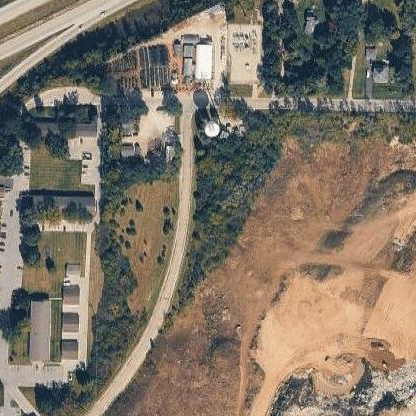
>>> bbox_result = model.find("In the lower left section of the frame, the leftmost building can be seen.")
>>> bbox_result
[30,301,51,363]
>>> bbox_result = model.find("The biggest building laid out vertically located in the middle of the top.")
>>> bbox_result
[195,42,213,81]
